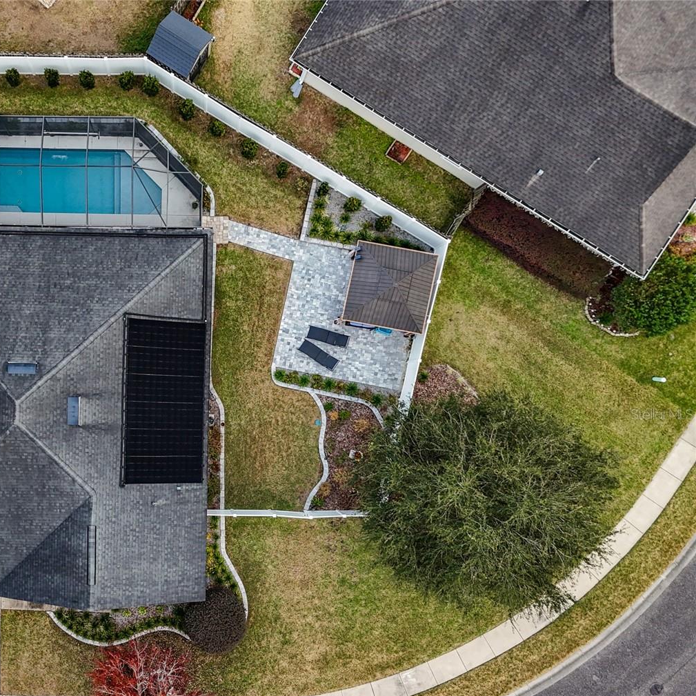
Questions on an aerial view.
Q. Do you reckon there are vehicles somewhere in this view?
No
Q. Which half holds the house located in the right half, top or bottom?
top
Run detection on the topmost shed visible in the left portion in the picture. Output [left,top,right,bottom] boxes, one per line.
[147,6,215,78]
